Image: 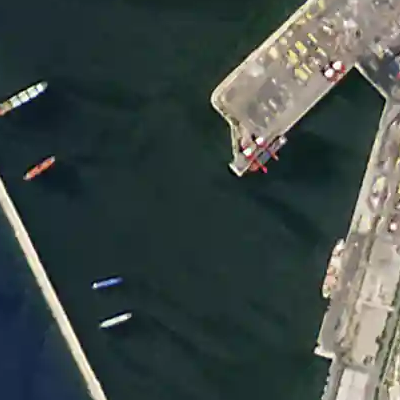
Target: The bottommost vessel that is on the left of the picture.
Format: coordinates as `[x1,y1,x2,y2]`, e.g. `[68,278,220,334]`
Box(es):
[99,312,133,327]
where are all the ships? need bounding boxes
[324,239,346,299]
[99,312,133,327]
[92,278,123,289]
[22,157,55,180]
[0,83,48,113]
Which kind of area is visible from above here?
port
